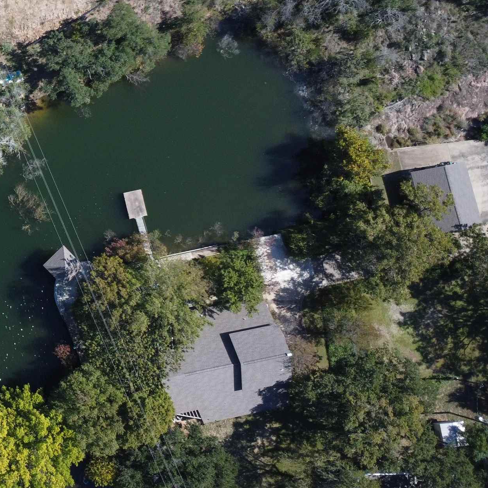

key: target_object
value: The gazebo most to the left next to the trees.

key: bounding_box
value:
[42,246,81,281]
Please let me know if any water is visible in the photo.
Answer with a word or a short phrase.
Yes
